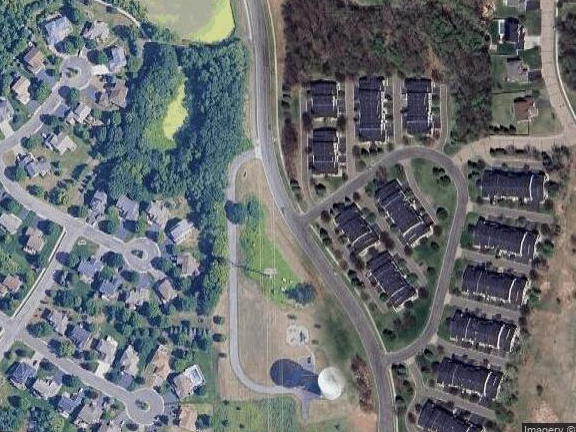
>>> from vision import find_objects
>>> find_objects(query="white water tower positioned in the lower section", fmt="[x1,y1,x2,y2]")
[316,368,346,397]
